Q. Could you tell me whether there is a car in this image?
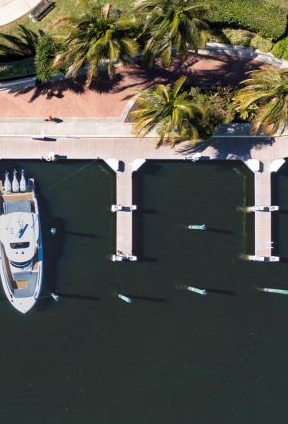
No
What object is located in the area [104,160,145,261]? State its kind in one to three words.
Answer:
pier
